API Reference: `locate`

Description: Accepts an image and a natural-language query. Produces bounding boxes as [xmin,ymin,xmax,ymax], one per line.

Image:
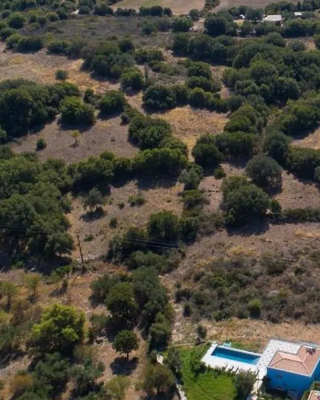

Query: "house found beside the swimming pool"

[266,339,320,393]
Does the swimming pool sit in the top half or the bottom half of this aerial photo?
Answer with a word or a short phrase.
bottom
